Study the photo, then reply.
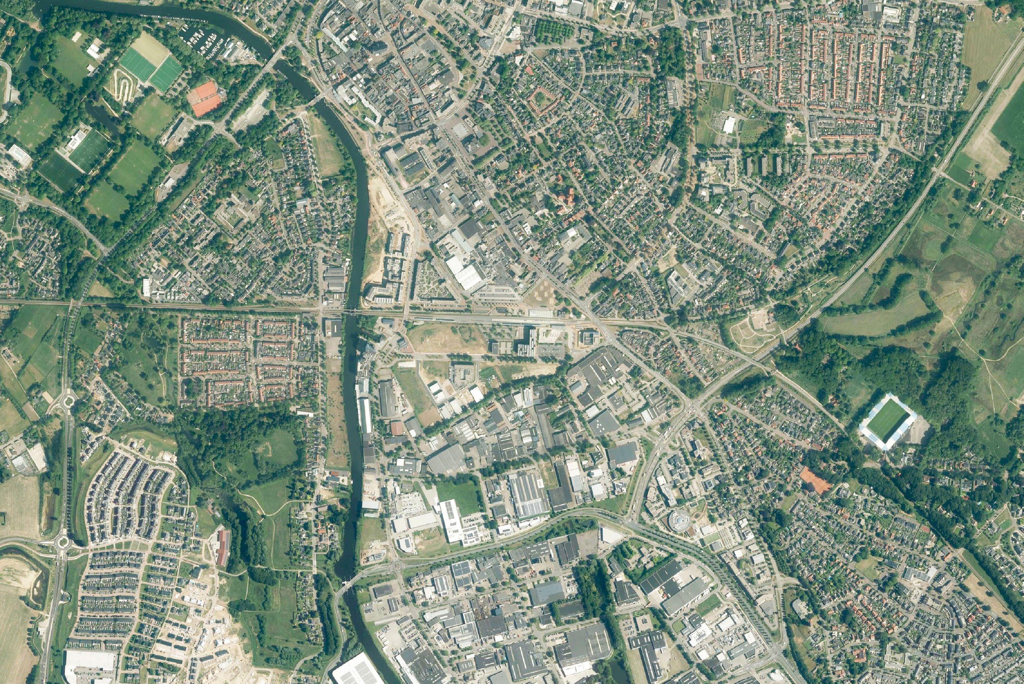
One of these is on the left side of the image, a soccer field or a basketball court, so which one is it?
soccer field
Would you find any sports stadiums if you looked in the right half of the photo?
Yes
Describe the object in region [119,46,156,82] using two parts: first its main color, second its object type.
green sports field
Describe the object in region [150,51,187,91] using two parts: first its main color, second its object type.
green sports field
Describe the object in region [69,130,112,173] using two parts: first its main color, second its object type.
green soccer field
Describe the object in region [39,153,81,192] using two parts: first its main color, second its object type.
green soccer field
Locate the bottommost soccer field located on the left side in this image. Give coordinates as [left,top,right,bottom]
[89,182,128,218]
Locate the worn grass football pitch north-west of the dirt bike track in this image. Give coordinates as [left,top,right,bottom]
[56,42,94,81]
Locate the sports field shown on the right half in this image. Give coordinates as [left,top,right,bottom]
[867,399,910,443]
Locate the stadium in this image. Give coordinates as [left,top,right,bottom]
[860,392,917,450]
